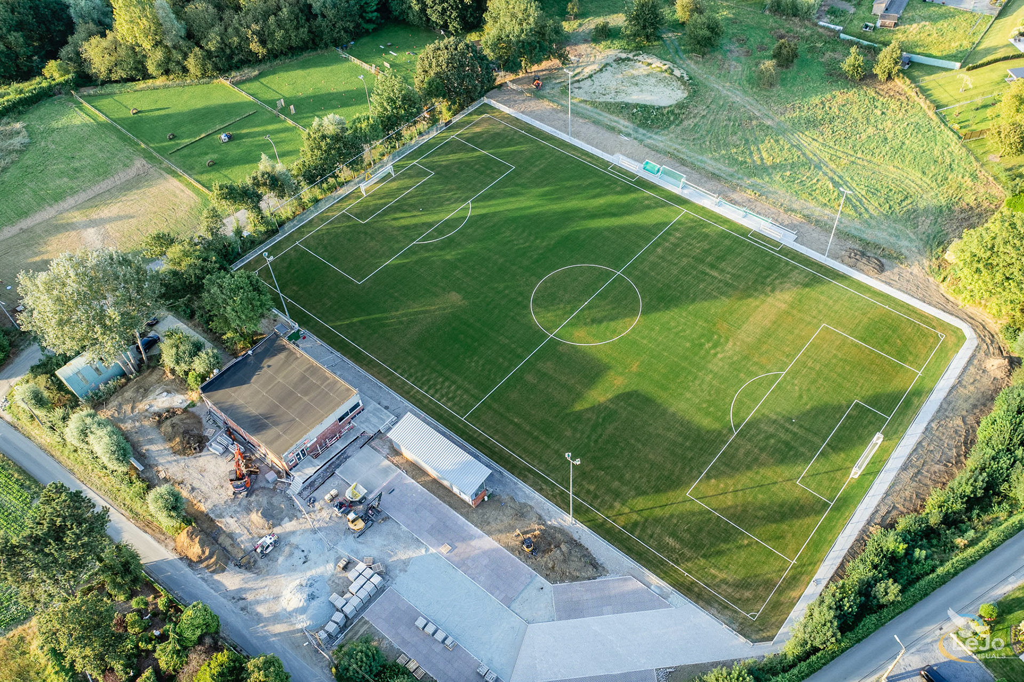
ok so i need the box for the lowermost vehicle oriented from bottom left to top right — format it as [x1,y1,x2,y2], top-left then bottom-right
[218,533,283,580]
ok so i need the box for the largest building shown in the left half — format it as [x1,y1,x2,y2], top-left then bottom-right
[198,331,362,471]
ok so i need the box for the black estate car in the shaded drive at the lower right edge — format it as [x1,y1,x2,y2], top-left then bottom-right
[920,659,958,682]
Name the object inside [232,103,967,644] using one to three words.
soccer field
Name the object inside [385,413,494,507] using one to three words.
building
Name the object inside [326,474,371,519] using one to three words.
truck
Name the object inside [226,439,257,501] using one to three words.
work vehicle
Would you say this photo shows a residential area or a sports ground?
sports ground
